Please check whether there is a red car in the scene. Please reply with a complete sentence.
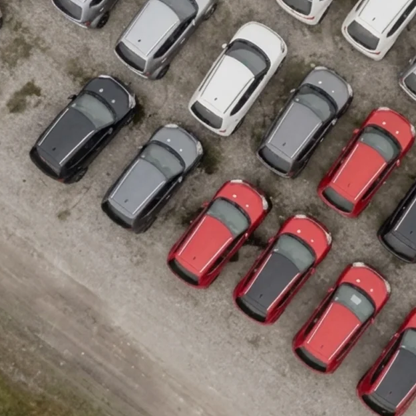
Yes, the photo shows a red car.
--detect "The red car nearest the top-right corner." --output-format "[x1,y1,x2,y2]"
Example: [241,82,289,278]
[312,104,415,218]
